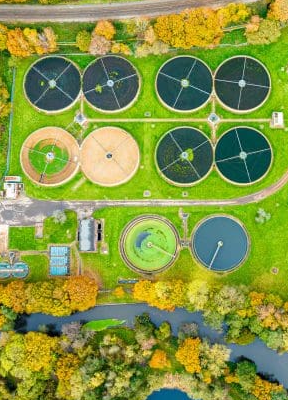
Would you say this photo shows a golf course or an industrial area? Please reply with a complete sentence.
It's an industrial area.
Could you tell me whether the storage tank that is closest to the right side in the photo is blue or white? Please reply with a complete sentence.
The storage tank that is closest to the right side looks blue in the image.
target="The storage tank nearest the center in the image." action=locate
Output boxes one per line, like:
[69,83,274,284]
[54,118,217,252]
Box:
[119,213,180,276]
